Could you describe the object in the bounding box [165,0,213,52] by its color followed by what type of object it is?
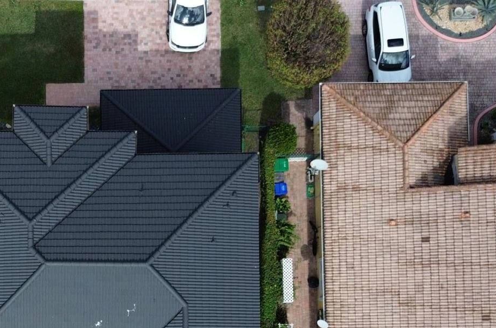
white car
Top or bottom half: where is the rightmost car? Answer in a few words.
top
